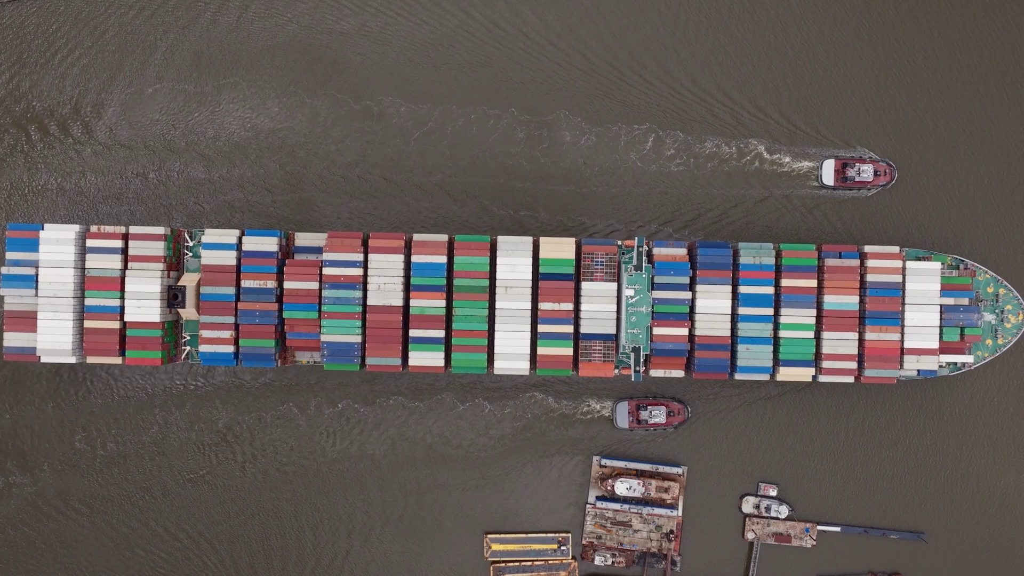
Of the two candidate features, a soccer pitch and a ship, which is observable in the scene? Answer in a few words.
ship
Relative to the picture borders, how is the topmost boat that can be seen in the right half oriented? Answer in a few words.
from side to side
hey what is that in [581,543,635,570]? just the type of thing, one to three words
boat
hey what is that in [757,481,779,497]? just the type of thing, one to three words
boat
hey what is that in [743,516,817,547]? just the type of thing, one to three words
ship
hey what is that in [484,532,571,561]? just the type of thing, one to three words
ship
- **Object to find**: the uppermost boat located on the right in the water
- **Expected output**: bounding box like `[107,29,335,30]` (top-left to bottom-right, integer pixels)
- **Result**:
[817,155,898,191]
